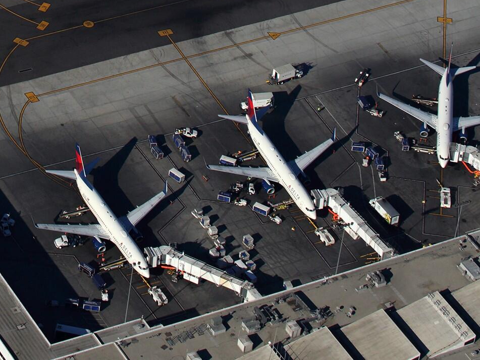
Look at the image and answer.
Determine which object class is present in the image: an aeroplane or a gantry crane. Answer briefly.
aeroplane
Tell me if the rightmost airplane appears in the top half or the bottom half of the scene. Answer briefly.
top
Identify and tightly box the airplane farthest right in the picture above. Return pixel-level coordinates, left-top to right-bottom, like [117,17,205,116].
[377,46,480,171]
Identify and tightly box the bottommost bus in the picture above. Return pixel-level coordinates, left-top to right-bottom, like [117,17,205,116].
[48,315,99,337]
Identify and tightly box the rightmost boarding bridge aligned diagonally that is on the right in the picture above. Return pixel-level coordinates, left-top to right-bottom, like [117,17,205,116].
[319,189,396,261]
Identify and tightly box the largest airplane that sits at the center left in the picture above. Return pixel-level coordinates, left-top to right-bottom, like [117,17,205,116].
[36,147,170,281]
